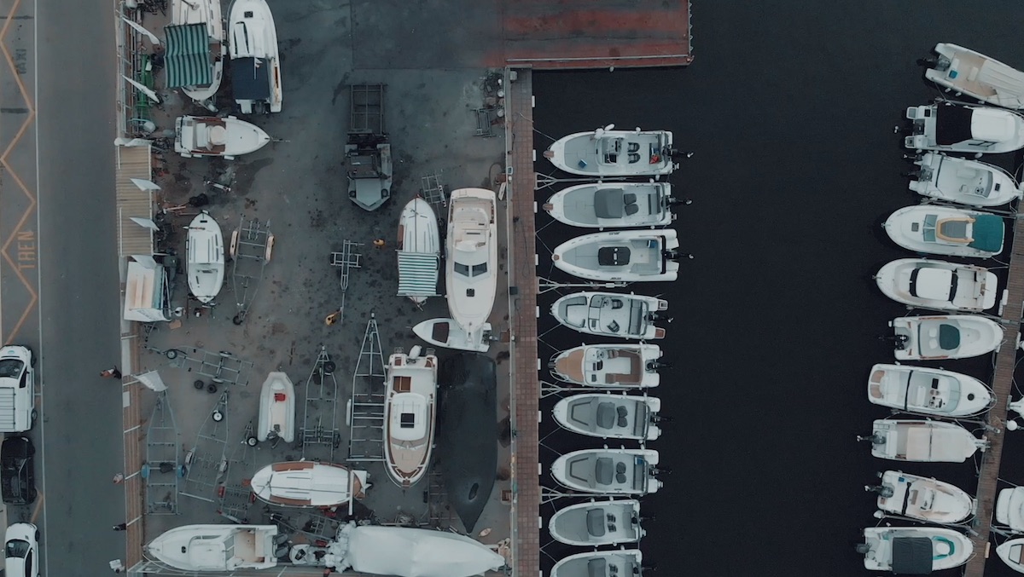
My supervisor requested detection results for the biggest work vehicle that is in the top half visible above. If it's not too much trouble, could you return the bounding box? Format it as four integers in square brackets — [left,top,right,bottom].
[345,83,394,212]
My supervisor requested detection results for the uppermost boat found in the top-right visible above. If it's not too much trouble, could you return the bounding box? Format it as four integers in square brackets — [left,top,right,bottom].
[919,43,1024,110]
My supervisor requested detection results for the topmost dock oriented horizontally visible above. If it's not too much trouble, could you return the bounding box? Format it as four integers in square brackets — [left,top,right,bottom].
[502,0,695,74]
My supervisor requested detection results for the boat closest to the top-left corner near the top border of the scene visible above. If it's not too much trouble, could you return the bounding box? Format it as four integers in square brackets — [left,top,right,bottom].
[164,0,229,112]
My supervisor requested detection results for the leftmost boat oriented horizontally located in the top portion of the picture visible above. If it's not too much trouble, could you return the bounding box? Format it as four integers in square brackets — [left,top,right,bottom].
[175,115,289,161]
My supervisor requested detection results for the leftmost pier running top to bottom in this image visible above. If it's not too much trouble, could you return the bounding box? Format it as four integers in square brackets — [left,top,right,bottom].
[513,70,548,577]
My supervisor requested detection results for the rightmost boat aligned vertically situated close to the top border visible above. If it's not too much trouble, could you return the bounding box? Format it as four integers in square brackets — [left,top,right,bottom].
[227,0,285,116]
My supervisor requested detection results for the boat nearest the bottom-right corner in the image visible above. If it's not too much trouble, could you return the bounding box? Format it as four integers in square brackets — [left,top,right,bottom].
[994,535,1024,571]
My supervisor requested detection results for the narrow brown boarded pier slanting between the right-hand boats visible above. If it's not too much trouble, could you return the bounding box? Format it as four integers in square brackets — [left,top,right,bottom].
[959,143,1024,577]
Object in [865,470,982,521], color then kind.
white boat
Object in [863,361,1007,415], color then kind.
white boat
